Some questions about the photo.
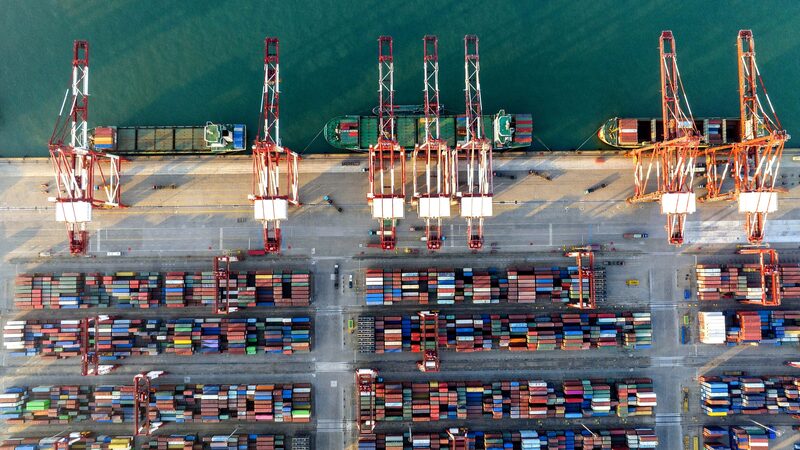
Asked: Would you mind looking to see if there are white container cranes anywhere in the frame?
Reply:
Yes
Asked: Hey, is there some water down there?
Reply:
Yes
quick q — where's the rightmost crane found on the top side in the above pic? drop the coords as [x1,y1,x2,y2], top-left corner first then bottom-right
[701,30,785,247]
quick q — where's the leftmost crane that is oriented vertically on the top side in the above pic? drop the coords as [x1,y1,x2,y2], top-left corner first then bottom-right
[45,38,125,254]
